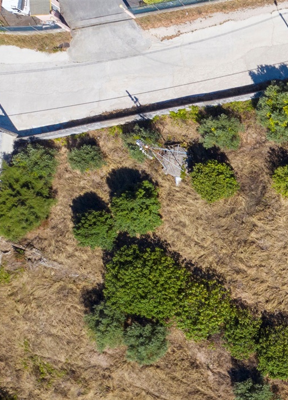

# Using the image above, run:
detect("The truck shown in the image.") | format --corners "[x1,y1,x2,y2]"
[0,0,32,24]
